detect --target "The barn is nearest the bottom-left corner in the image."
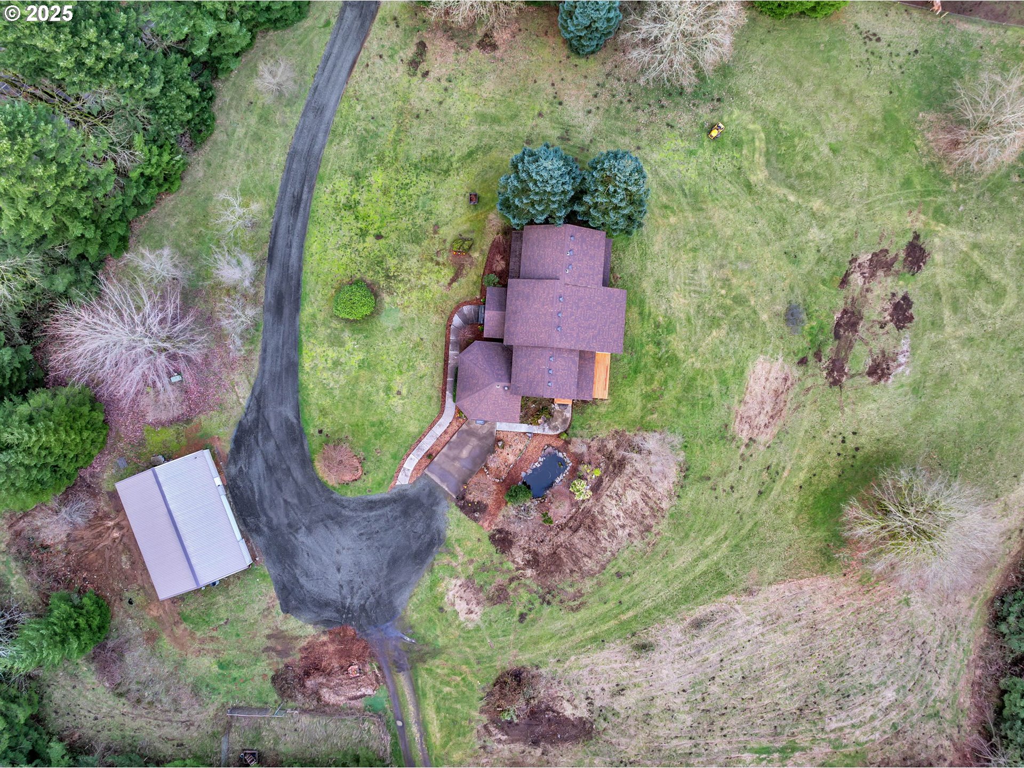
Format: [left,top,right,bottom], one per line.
[115,450,251,600]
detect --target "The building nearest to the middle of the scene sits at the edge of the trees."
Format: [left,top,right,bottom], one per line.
[455,223,627,425]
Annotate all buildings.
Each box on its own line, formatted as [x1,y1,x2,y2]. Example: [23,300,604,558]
[455,223,627,425]
[115,450,251,600]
